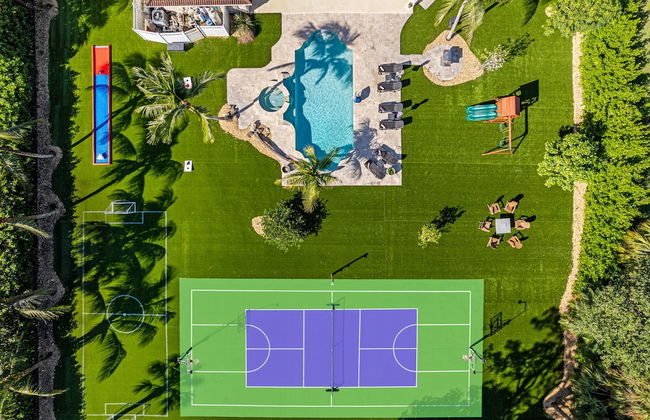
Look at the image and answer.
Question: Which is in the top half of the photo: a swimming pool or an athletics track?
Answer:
swimming pool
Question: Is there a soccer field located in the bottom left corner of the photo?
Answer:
Yes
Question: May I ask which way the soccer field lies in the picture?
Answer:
vertically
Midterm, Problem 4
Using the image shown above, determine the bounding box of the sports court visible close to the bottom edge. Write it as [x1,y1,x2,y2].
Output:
[180,279,484,417]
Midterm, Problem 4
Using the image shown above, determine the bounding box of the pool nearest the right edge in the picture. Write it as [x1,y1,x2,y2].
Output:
[281,27,355,172]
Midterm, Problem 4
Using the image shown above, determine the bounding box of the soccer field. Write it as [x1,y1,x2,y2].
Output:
[83,211,167,416]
